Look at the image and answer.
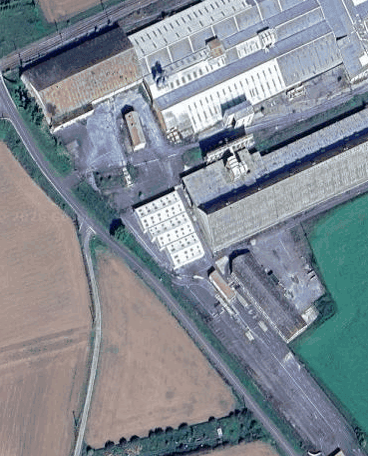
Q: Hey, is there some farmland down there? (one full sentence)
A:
Yes, the picture does contain farmland.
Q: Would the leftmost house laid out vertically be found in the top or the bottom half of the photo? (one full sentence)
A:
The leftmost house laid out vertically sits in the top half of the picture.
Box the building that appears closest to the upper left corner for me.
[20,24,143,130]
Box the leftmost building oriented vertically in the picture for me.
[123,111,146,150]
